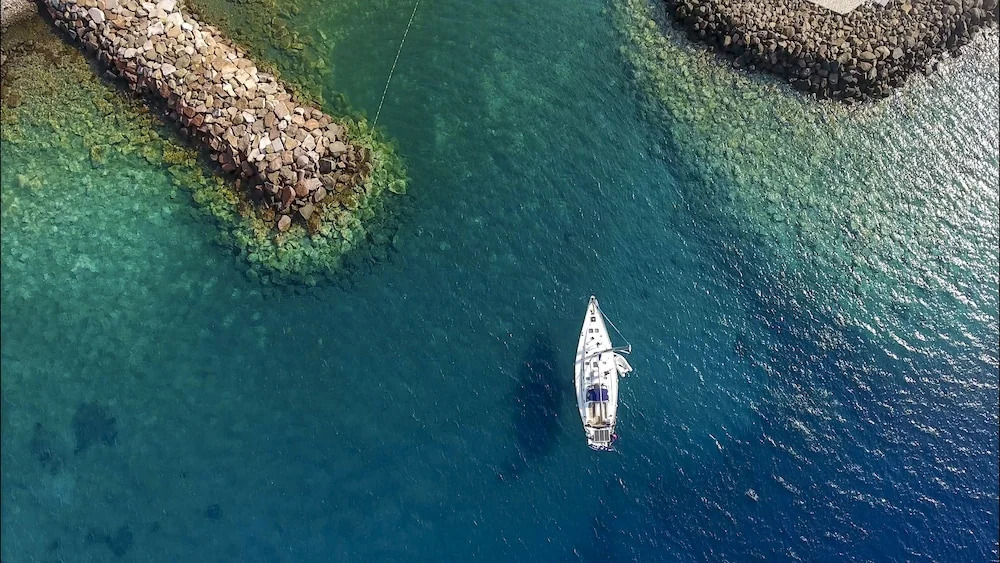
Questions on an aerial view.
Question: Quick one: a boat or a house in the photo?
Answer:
boat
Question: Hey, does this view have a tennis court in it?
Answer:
No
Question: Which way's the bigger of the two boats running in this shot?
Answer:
vertically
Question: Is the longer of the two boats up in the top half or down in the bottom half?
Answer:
bottom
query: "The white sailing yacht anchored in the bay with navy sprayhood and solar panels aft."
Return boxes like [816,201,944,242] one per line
[572,294,631,452]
